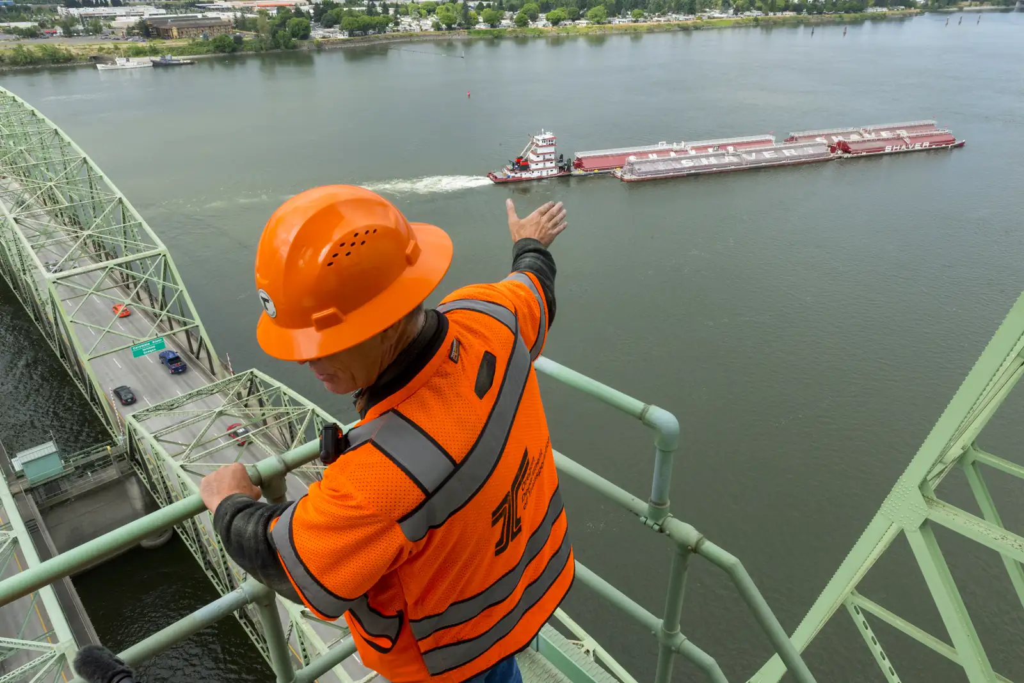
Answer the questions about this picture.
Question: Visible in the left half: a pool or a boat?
boat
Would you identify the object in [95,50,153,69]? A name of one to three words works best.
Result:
boat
